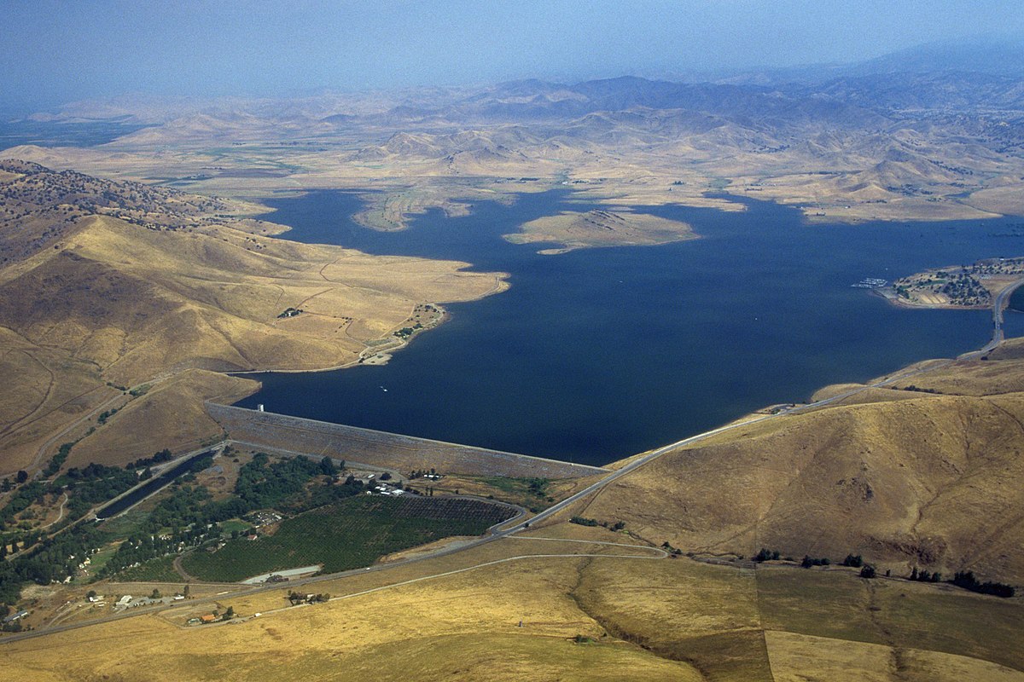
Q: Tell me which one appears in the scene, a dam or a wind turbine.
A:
dam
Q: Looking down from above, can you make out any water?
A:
Yes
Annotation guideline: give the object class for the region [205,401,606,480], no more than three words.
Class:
dam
